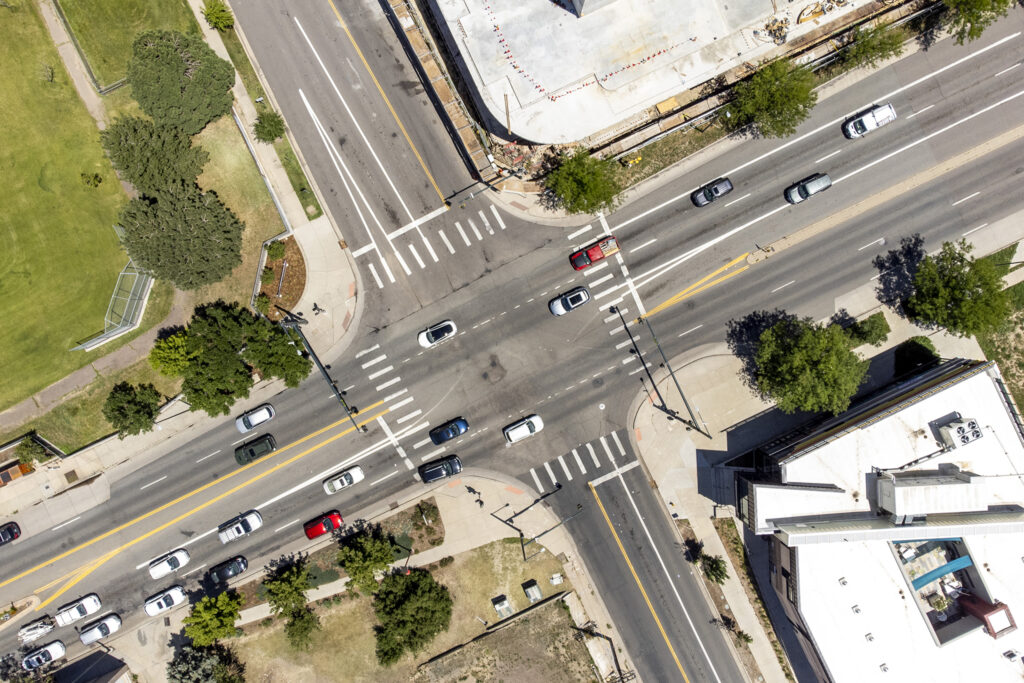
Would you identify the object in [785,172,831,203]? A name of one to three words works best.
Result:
car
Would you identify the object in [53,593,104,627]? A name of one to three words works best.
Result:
truck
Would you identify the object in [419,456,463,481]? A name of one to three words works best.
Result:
car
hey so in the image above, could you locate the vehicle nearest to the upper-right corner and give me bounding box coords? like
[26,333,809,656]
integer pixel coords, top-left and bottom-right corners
[842,102,896,139]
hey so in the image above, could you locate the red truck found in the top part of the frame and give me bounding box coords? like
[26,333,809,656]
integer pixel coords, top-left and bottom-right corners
[569,235,622,269]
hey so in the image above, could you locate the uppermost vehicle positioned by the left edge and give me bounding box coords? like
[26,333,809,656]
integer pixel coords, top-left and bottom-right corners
[0,520,20,542]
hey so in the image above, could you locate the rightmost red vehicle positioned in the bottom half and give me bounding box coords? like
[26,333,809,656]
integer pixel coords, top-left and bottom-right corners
[304,510,344,539]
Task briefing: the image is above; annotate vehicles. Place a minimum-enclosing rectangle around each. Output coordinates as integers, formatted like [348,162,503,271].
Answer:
[53,593,104,627]
[419,456,463,481]
[236,402,278,431]
[503,413,543,443]
[23,640,68,671]
[236,433,278,462]
[690,178,733,207]
[79,612,123,643]
[550,286,591,315]
[304,510,344,539]
[418,319,459,347]
[569,235,622,269]
[842,102,896,139]
[323,466,366,495]
[208,555,250,584]
[428,418,470,446]
[0,520,20,542]
[144,584,187,615]
[785,172,831,203]
[148,549,191,578]
[218,510,263,541]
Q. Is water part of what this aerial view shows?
No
